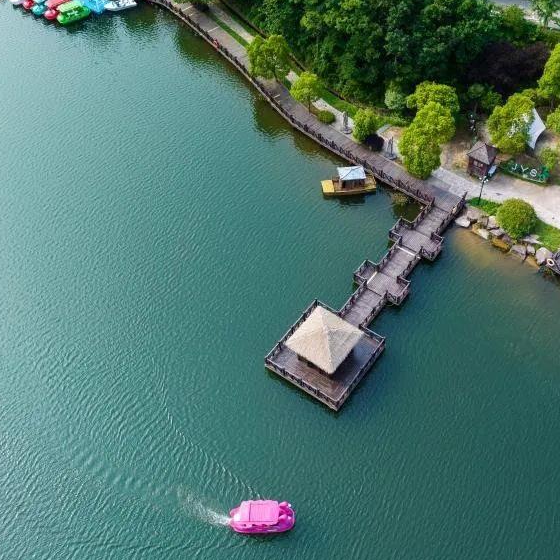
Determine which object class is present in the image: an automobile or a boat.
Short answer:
boat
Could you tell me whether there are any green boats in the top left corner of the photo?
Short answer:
Yes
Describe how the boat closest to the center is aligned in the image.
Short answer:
from left to right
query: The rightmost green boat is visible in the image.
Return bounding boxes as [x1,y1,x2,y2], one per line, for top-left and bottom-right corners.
[58,0,90,25]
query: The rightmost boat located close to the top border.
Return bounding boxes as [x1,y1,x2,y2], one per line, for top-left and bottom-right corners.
[100,0,139,14]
